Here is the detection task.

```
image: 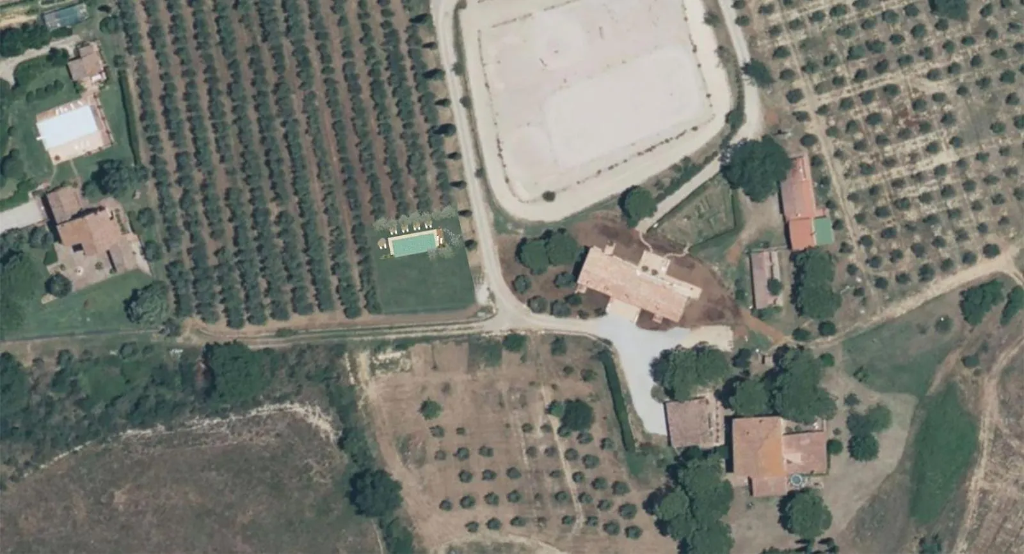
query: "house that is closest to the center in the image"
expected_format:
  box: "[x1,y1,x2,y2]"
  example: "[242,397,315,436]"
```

[575,243,702,324]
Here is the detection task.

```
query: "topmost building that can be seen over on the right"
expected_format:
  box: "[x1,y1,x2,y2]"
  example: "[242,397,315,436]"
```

[781,156,826,220]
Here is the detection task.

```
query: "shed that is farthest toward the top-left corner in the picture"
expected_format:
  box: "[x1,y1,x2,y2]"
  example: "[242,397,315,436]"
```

[44,3,88,27]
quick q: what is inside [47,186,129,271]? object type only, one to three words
house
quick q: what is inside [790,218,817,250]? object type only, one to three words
barn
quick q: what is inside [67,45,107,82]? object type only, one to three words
building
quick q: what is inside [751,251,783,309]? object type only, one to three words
shed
